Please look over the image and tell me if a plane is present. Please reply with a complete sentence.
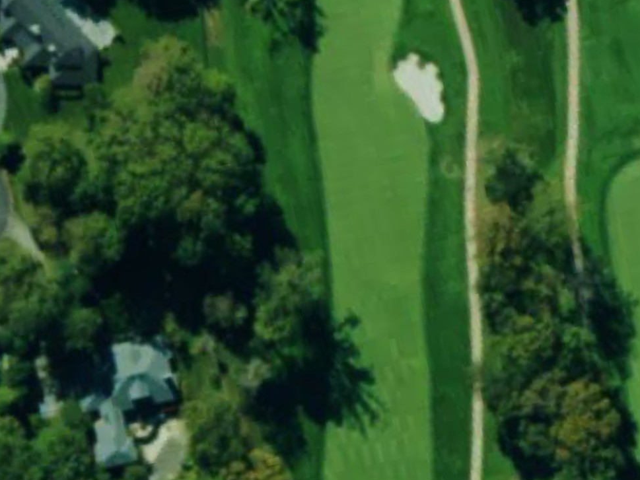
No, no plane is visible in the view.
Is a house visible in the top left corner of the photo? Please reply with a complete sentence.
Yes, in the top left corner of the photo there is a house.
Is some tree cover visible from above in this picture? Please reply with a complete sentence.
Yes, there's tree cover in this view.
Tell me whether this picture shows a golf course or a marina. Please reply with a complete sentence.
This looks like a golf course.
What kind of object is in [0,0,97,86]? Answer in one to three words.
house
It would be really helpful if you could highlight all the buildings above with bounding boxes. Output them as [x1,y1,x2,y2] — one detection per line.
[0,0,97,86]
[75,345,173,466]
